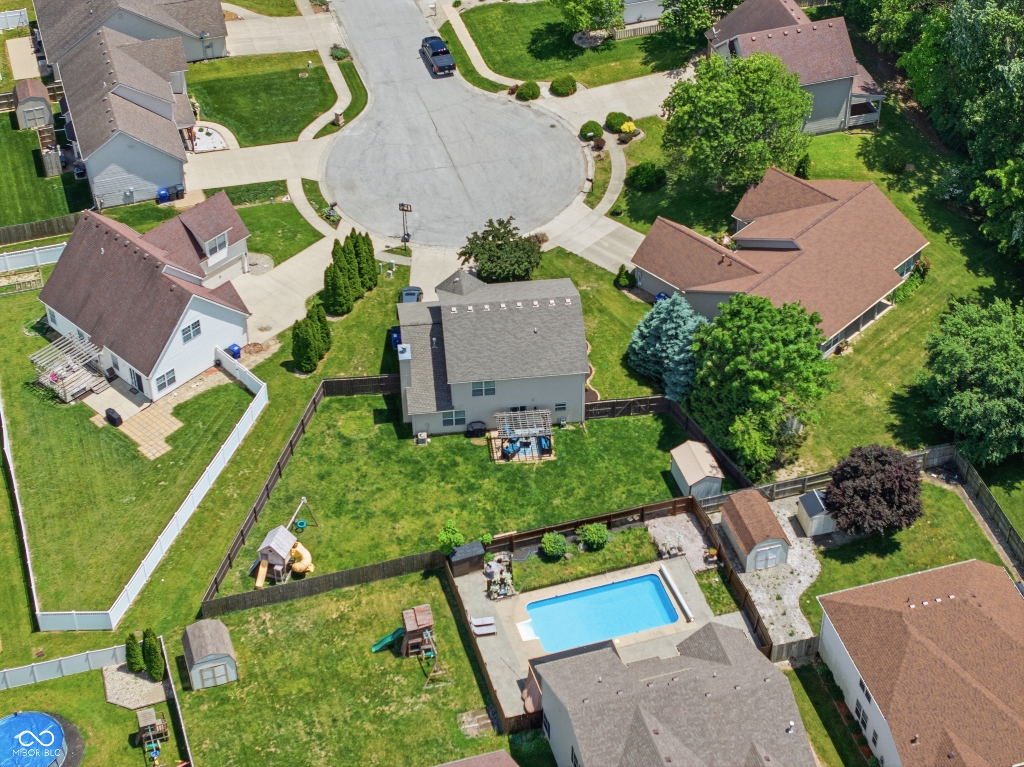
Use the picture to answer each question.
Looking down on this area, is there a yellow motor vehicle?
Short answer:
No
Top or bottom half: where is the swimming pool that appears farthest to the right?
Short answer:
bottom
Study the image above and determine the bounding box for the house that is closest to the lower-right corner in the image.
[816,559,1024,767]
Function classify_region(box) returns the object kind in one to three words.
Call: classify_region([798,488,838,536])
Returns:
shed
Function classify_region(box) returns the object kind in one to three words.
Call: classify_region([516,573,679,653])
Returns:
swimming pool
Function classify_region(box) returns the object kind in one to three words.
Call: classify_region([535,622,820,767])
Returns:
house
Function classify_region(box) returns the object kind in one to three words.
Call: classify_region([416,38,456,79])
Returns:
truck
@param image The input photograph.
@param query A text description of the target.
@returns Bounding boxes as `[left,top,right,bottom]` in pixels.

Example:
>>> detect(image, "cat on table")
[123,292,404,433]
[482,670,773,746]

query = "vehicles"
[416,38,456,79]
[396,285,424,325]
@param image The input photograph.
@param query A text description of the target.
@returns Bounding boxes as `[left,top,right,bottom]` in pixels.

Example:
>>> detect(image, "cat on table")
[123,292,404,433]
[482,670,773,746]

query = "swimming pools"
[516,573,679,653]
[0,720,70,767]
